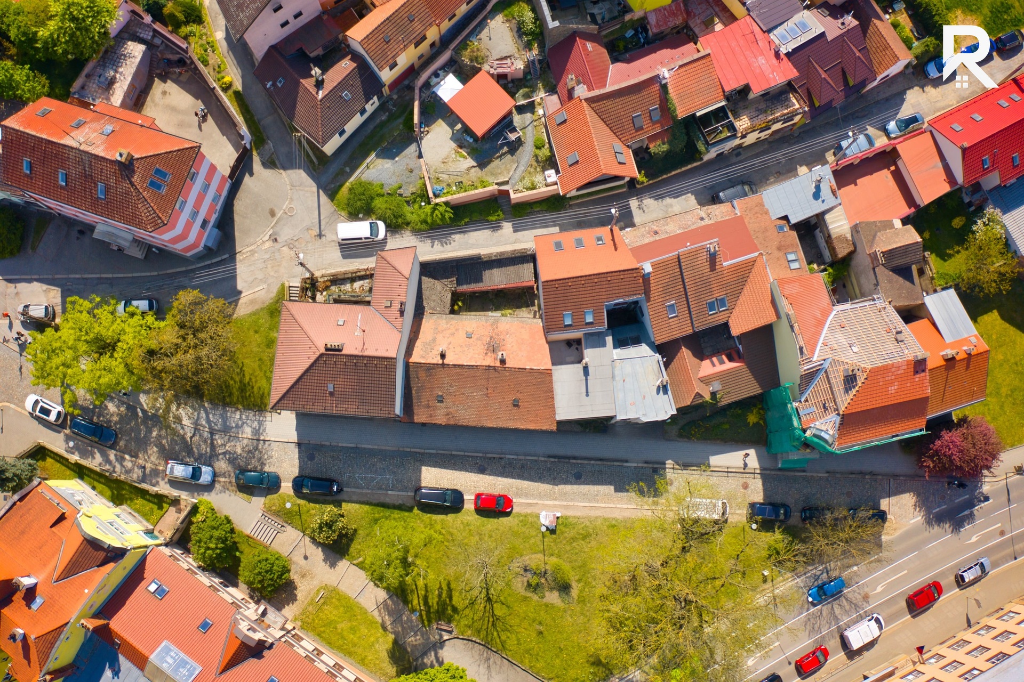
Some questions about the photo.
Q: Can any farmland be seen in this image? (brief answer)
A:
No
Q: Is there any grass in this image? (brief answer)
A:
Yes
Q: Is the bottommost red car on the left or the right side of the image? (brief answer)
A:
right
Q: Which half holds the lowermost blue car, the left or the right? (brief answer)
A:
right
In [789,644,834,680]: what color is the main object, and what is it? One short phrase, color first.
red car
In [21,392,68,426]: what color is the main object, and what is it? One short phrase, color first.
white car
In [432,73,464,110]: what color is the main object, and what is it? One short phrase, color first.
white tent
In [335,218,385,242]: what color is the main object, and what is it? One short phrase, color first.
white vehicle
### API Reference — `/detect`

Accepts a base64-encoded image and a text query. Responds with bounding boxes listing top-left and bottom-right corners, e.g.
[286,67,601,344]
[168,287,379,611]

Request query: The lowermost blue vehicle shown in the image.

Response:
[804,575,851,606]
